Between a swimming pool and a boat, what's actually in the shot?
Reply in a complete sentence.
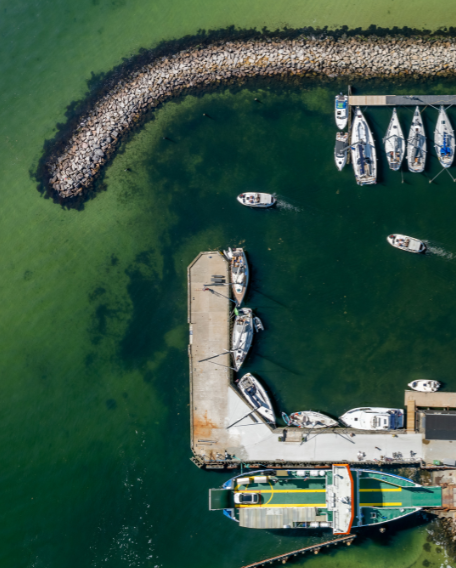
Of the two, only a boat appears.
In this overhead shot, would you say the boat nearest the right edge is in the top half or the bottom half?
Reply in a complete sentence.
The boat nearest the right edge is in the top half of the image.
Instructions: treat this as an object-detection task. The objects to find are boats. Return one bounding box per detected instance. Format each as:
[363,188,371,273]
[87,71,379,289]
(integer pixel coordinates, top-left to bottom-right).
[237,192,278,208]
[432,105,455,178]
[290,411,341,433]
[212,249,250,305]
[381,106,406,181]
[254,317,264,333]
[213,307,255,371]
[388,233,428,253]
[334,92,348,129]
[232,372,276,423]
[408,377,442,392]
[405,105,428,177]
[340,406,406,430]
[333,129,348,171]
[342,105,379,186]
